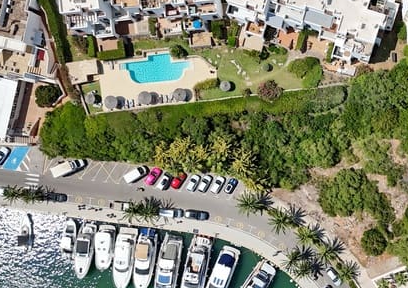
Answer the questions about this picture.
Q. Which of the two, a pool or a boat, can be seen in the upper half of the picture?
pool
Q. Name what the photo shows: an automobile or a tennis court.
automobile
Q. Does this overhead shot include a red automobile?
Yes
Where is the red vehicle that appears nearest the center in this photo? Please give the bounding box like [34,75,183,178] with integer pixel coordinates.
[171,169,187,191]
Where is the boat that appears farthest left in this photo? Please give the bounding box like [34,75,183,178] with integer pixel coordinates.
[18,215,34,249]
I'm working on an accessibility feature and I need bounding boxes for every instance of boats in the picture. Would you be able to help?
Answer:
[134,231,157,288]
[74,224,99,278]
[156,233,186,288]
[18,215,34,249]
[181,232,212,288]
[61,220,78,258]
[96,226,117,271]
[207,244,242,288]
[242,259,279,288]
[114,225,139,288]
